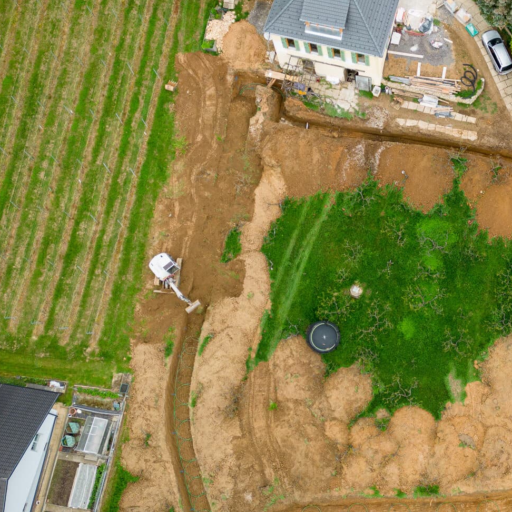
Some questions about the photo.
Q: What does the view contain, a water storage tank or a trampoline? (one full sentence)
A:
The image shows a trampoline.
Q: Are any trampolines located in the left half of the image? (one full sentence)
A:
No, no trampoline is visible in the left half of the image.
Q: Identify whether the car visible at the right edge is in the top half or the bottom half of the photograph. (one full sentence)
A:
You can find the car visible at the right edge in the top half.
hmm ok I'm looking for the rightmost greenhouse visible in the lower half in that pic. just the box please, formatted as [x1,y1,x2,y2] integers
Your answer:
[74,417,107,454]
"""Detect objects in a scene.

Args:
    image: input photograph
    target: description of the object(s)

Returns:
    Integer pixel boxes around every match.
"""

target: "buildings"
[74,417,107,454]
[259,0,399,88]
[0,381,63,512]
